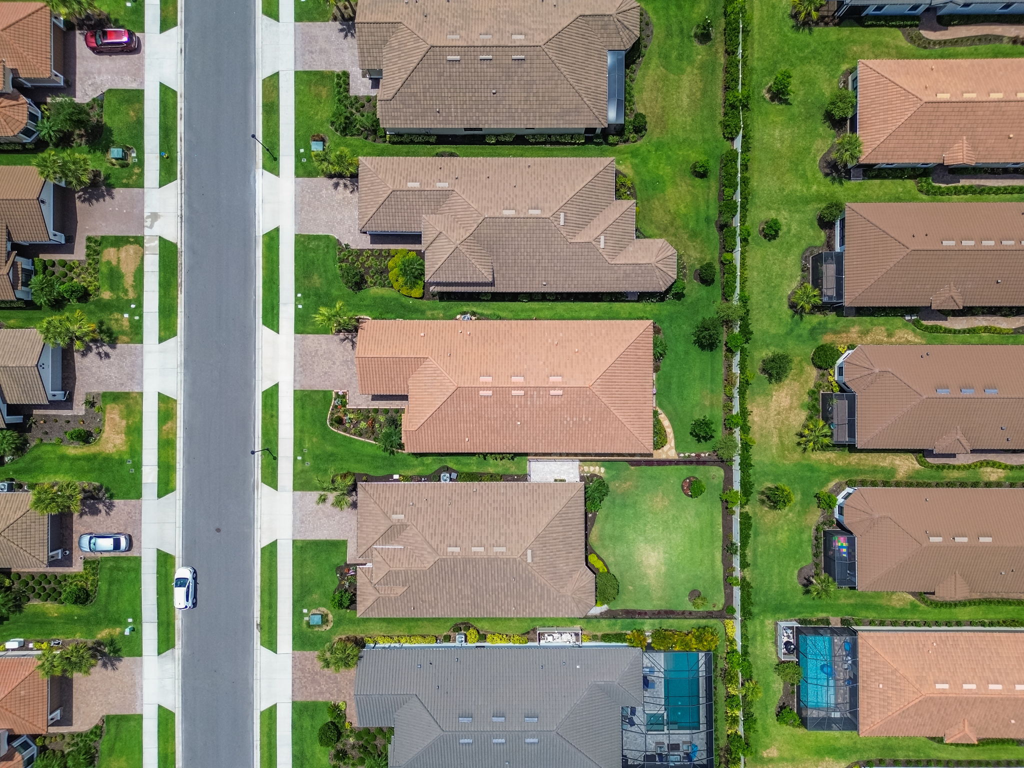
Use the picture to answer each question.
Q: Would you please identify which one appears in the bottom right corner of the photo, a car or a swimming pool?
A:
swimming pool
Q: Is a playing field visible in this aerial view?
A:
No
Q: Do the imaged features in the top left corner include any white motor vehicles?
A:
No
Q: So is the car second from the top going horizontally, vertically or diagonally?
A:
horizontally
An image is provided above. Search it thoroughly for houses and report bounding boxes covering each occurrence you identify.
[0,1,65,140]
[833,0,1024,21]
[0,492,63,569]
[810,202,1024,310]
[794,625,1024,745]
[0,166,65,303]
[358,156,677,293]
[0,653,62,768]
[0,328,65,429]
[820,344,1024,454]
[823,487,1024,597]
[355,0,641,135]
[355,319,654,454]
[848,59,1024,172]
[354,641,714,768]
[356,481,597,619]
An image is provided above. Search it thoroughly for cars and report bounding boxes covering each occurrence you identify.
[80,532,130,555]
[171,566,196,609]
[86,27,135,53]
